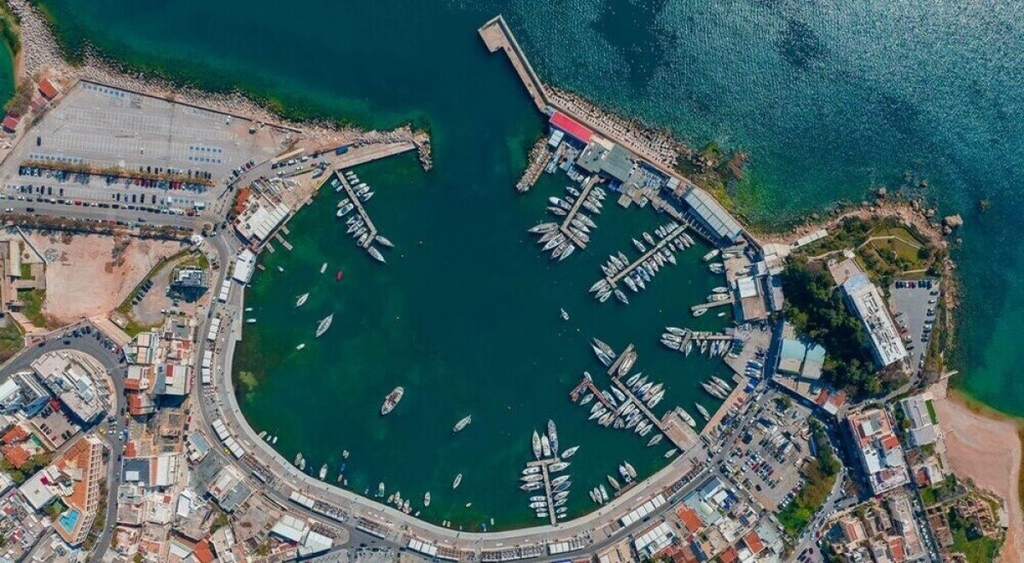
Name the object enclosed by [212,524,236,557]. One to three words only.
house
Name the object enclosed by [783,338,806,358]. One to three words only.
building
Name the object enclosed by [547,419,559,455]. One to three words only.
boat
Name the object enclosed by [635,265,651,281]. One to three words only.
boat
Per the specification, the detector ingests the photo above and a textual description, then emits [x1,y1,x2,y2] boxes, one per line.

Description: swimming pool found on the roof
[59,509,80,533]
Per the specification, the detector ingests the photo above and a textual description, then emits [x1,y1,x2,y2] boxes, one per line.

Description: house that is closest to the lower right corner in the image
[926,505,954,548]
